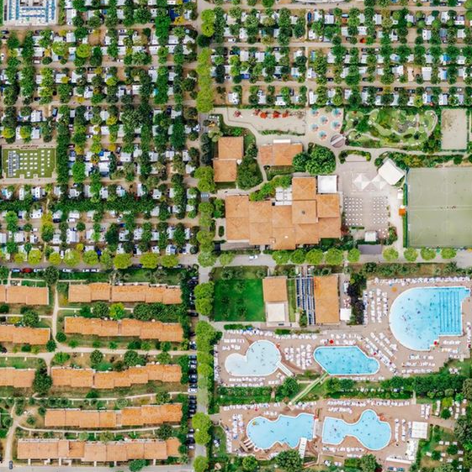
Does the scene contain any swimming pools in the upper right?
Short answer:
No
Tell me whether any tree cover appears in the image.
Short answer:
Yes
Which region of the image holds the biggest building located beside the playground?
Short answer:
center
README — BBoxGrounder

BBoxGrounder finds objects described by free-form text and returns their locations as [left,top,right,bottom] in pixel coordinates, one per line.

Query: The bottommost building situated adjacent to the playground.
[226,175,341,250]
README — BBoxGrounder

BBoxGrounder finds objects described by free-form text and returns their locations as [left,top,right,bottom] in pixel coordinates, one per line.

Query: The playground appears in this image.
[211,106,345,149]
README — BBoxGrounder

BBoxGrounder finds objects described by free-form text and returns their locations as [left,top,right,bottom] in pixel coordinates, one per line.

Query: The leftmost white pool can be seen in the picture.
[225,341,282,376]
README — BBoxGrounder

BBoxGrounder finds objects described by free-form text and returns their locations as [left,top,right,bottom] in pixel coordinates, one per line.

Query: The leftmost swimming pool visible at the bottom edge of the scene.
[246,413,313,451]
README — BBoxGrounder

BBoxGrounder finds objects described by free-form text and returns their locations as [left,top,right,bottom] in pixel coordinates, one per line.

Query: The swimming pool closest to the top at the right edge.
[388,286,471,351]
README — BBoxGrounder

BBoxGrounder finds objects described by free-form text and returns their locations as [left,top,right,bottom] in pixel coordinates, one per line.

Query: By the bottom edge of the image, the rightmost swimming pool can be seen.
[321,409,392,451]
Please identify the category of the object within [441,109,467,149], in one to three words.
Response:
sports court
